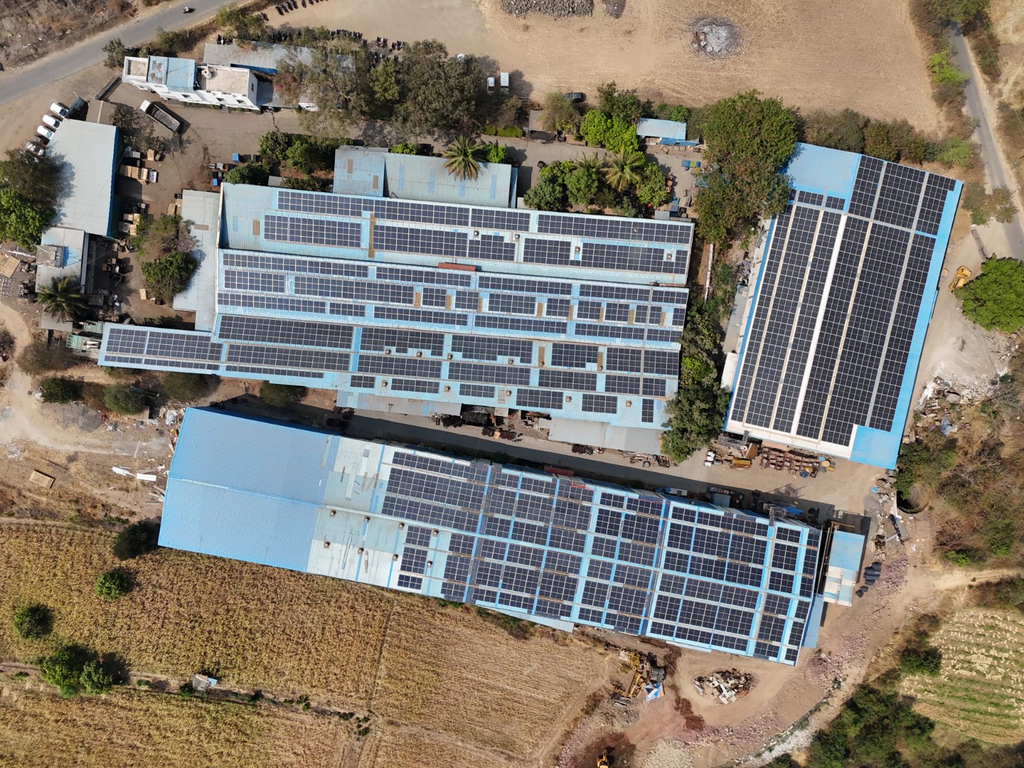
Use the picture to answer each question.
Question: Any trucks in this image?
Yes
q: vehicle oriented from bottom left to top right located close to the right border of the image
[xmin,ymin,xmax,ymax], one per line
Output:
[945,260,973,295]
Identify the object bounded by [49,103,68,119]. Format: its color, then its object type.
white car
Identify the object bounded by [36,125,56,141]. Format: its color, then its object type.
white car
